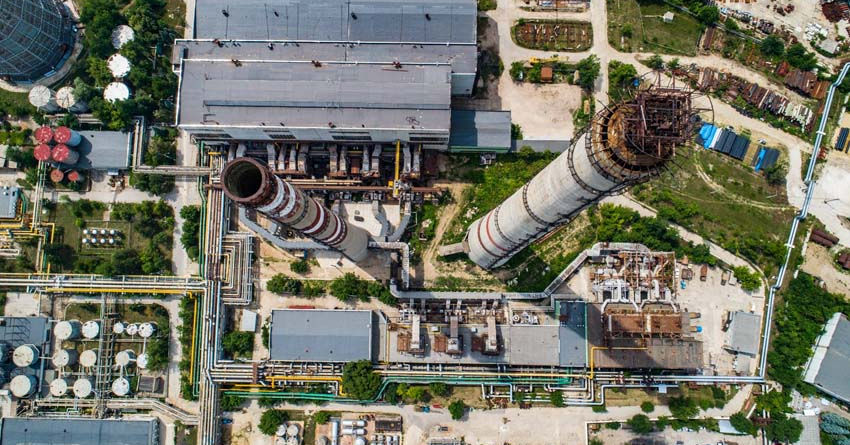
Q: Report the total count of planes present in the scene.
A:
0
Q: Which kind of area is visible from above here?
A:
industrial area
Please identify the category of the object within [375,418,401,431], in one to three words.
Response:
shed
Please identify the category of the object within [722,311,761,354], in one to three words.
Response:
building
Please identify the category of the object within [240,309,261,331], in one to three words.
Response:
shed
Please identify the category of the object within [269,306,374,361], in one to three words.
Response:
building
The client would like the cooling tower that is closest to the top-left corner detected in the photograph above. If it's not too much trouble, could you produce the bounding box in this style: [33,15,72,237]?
[0,0,78,86]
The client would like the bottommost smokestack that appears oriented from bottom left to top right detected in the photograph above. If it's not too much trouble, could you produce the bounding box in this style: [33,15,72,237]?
[438,76,700,267]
